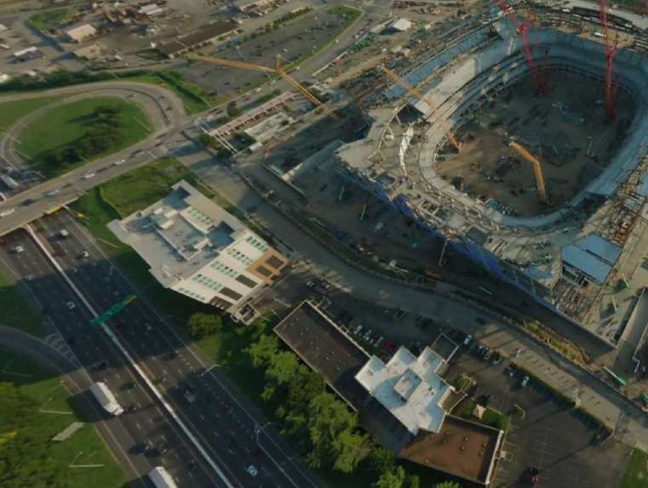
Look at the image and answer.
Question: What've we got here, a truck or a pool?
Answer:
truck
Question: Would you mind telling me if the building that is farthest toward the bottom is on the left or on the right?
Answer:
right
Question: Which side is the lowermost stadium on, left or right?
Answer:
right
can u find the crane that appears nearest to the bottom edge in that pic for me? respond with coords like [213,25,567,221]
[509,142,550,207]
